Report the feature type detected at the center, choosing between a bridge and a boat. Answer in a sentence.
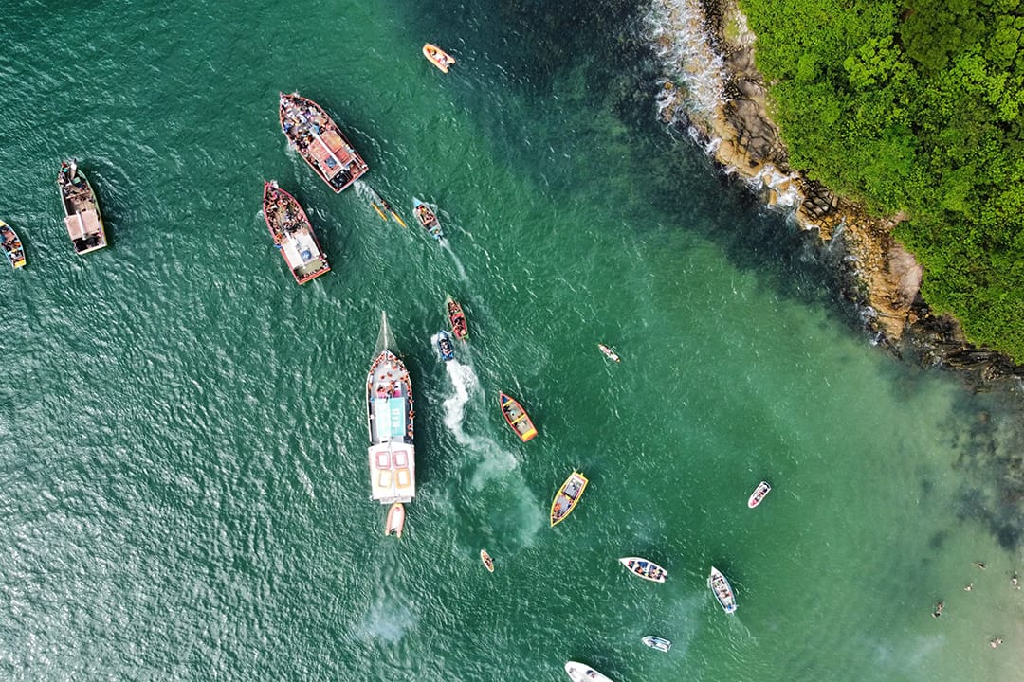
What appears at the center is a boat.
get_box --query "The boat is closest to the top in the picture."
[423,42,456,76]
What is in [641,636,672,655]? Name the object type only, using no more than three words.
boat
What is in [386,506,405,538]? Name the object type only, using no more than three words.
boat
